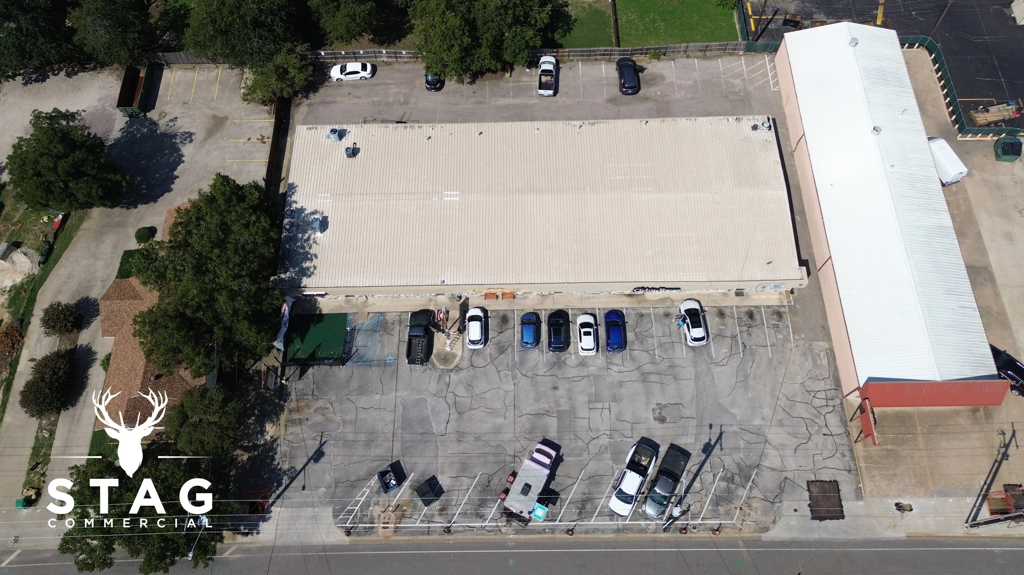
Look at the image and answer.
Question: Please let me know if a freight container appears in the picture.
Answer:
Yes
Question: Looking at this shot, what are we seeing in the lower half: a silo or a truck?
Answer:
truck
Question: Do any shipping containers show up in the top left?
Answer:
Yes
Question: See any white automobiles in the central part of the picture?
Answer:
Yes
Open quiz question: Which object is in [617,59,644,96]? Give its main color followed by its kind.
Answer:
black car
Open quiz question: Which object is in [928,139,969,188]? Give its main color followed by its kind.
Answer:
white van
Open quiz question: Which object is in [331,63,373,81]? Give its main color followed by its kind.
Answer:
white car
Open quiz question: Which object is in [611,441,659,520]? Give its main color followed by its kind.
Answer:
white truck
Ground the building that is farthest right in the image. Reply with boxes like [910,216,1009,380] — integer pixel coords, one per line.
[773,21,1013,448]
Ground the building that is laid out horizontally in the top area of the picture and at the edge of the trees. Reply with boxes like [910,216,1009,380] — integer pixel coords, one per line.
[272,116,809,301]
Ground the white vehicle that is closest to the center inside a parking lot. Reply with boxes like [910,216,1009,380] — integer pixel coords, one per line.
[464,311,486,352]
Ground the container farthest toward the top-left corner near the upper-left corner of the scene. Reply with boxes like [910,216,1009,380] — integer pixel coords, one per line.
[117,62,153,119]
